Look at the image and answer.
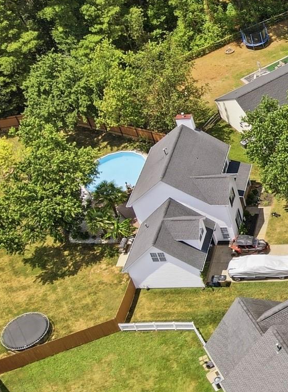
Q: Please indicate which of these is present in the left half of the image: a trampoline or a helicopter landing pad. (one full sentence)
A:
The feature located in the left half of the image is a trampoline.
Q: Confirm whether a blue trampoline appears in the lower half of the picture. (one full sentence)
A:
No, there is no blue trampoline in the lower half of the picture.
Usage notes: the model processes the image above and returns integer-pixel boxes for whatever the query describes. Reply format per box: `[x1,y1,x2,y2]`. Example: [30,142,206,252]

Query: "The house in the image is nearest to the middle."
[120,118,257,287]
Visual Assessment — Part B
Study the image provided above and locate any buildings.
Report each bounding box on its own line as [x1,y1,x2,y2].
[120,118,257,287]
[199,295,288,392]
[214,64,288,146]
